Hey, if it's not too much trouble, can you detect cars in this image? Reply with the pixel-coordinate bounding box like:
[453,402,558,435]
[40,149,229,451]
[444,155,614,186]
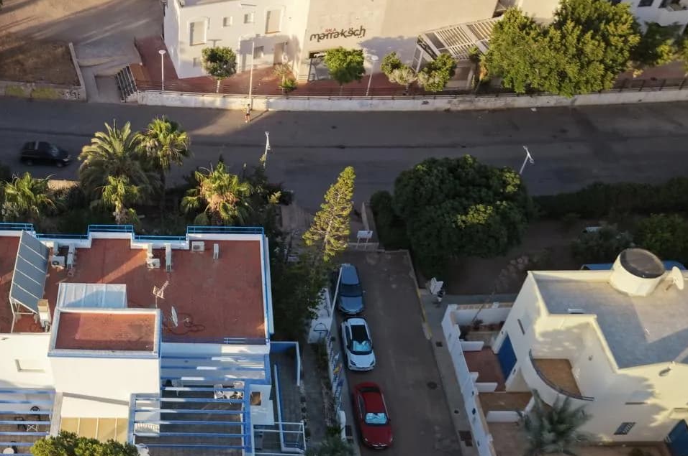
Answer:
[336,259,374,313]
[13,138,76,172]
[356,381,404,453]
[344,313,387,374]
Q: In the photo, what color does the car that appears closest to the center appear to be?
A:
blue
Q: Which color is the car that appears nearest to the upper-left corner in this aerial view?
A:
black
